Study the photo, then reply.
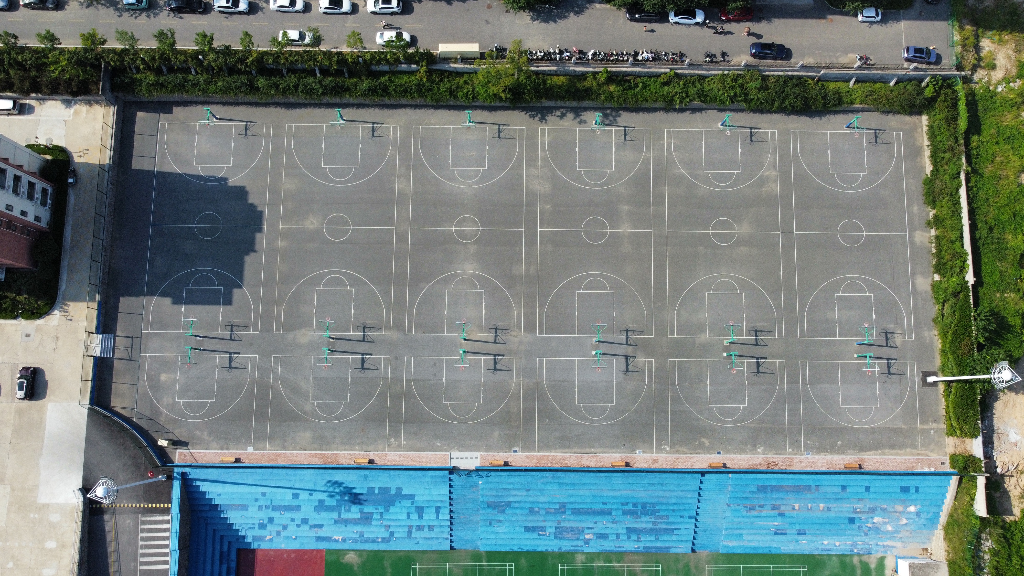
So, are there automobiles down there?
Yes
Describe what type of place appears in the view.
sports ground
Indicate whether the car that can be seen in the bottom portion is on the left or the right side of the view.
left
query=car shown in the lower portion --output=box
[15,366,37,401]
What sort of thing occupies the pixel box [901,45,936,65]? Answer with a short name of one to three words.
car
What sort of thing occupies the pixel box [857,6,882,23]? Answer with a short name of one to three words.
car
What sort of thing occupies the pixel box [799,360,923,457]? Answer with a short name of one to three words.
basketball court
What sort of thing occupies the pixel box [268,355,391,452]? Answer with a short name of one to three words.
basketball court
